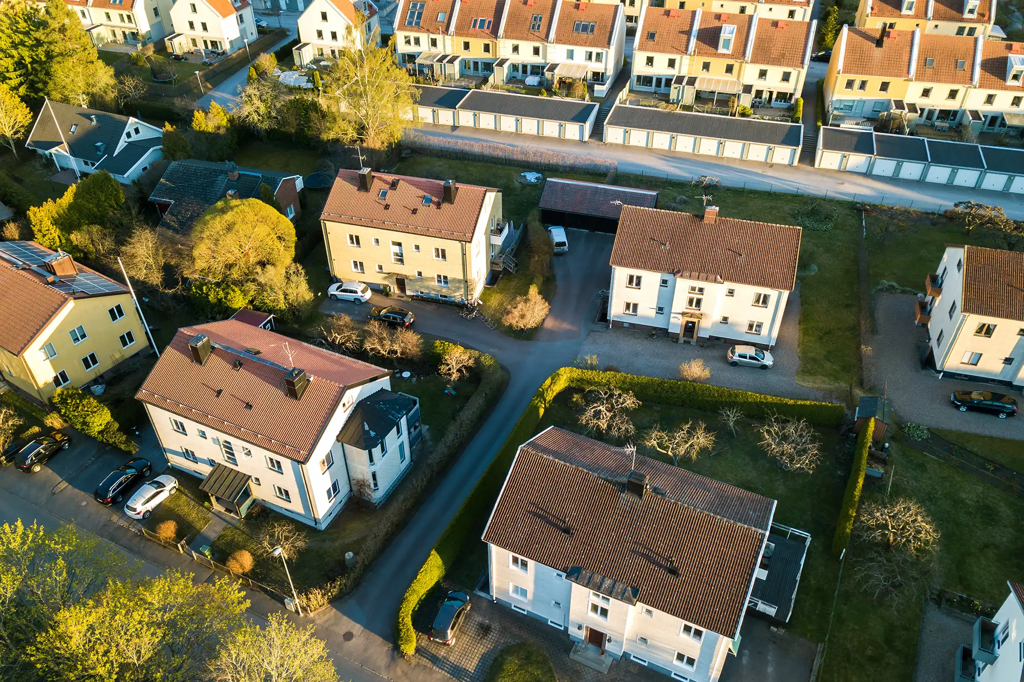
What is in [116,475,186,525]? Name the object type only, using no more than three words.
car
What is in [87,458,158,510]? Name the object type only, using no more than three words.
car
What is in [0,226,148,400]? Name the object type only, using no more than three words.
house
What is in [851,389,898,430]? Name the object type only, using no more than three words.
shed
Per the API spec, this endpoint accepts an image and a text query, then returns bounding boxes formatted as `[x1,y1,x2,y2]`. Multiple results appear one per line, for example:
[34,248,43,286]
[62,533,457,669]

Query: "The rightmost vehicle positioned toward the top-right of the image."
[816,48,835,62]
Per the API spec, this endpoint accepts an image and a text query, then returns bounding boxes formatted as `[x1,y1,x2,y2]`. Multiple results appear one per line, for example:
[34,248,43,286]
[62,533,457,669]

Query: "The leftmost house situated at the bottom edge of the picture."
[471,426,777,682]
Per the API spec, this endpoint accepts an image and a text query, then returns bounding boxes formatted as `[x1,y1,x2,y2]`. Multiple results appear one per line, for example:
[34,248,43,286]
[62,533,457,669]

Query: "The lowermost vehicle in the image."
[428,591,474,651]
